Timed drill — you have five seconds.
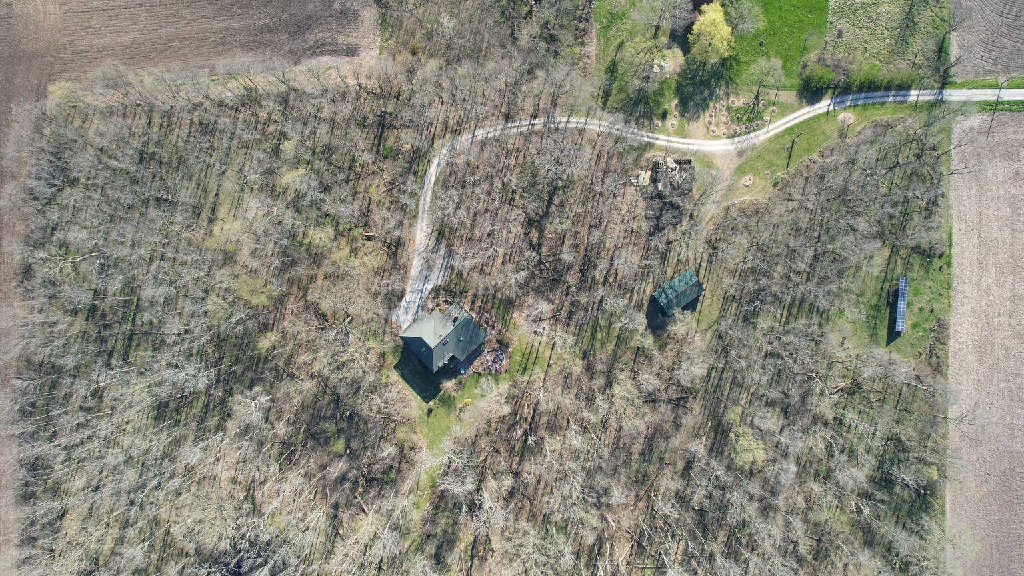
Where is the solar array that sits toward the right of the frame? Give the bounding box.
[894,277,908,331]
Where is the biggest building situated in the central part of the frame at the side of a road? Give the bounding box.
[399,302,485,372]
